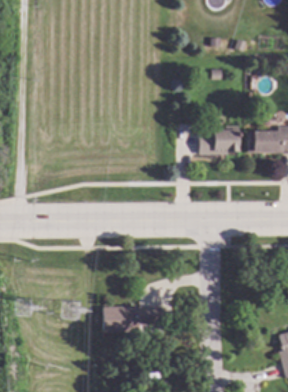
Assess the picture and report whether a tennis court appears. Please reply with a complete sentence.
No, the scene contains no tennis court.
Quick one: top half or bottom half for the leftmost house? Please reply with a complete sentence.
The leftmost house is in the bottom half of the image.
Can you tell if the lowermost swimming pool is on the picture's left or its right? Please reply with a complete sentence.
The lowermost swimming pool appears in the right half of the scene.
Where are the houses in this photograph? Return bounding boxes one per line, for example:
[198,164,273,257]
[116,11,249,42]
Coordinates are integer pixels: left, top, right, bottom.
[278,333,288,380]
[100,307,152,335]
[198,127,241,156]
[254,124,288,153]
